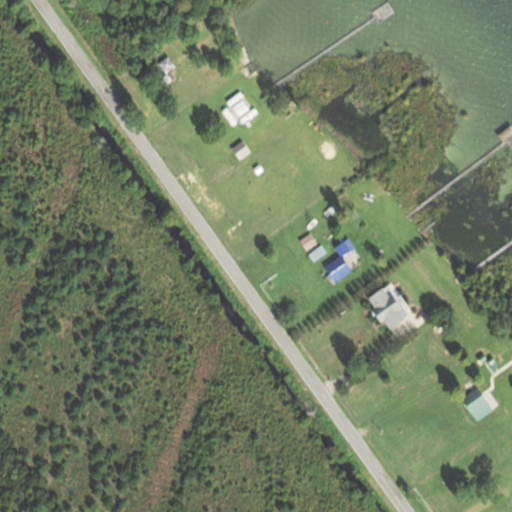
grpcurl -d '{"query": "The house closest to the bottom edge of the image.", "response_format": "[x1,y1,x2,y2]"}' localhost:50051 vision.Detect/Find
[462,382,494,422]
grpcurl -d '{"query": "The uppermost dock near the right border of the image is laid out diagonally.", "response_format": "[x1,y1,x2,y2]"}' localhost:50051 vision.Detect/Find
[406,140,512,218]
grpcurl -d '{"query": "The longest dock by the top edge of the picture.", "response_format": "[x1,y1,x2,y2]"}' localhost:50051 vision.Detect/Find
[274,3,394,85]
